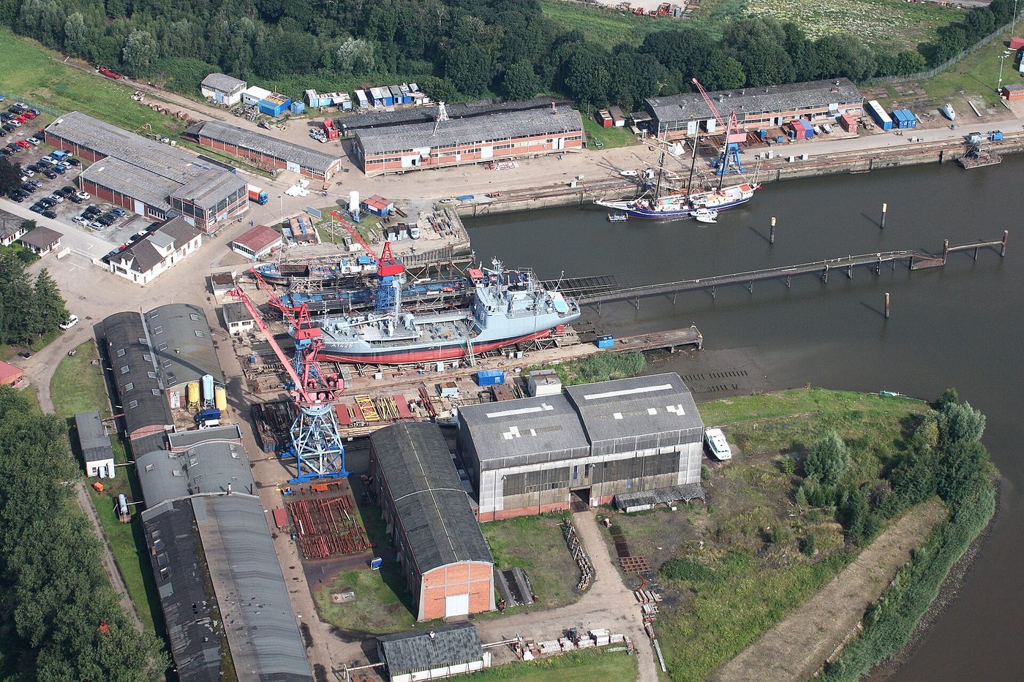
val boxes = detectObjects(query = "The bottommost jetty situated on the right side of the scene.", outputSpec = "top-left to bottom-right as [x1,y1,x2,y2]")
[553,315,704,356]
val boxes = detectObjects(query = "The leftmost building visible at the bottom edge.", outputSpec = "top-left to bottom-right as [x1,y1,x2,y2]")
[140,479,313,682]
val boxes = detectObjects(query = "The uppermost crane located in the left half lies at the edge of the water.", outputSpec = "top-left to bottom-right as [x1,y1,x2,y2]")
[328,209,410,321]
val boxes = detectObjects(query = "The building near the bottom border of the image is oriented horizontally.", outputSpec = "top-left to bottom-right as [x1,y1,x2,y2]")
[383,623,490,682]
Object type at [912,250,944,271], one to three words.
pier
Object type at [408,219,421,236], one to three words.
vehicle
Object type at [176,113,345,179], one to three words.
shed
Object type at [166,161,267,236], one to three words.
building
